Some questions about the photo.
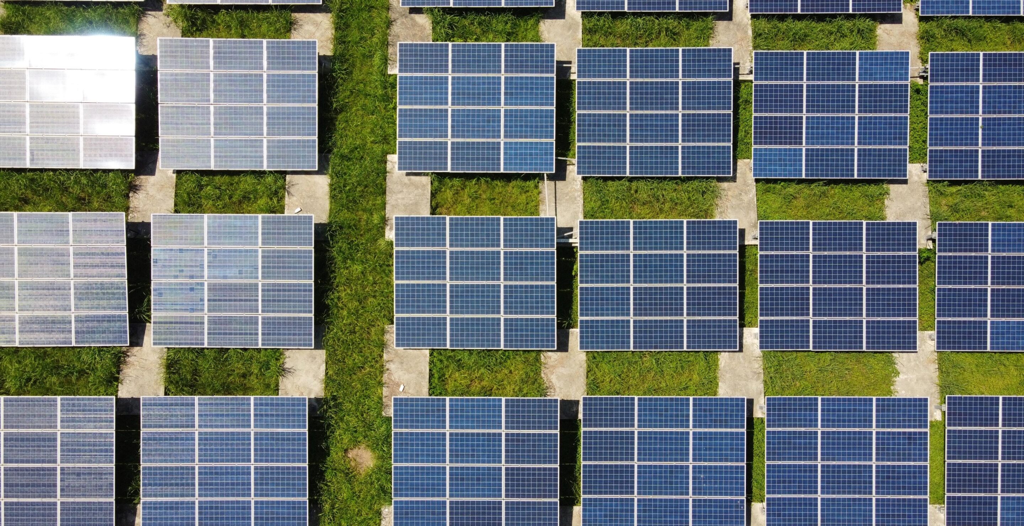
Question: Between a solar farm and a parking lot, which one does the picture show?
solar farm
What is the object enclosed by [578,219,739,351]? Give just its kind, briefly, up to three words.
solar array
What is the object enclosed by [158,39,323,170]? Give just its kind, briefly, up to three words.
solar array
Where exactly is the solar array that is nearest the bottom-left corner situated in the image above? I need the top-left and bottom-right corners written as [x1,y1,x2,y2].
[0,395,130,526]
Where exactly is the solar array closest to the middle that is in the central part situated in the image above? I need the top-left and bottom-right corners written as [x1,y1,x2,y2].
[394,216,557,349]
